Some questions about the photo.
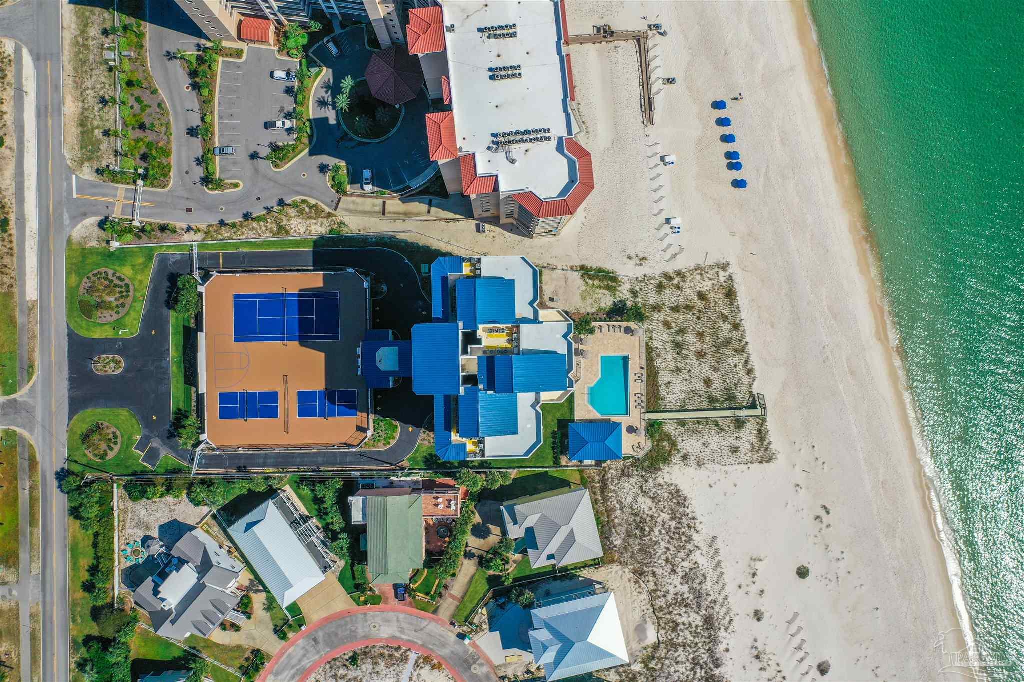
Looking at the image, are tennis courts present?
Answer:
Yes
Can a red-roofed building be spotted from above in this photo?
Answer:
Yes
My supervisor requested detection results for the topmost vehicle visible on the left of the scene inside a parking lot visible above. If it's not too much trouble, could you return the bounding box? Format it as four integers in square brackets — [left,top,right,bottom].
[324,35,341,58]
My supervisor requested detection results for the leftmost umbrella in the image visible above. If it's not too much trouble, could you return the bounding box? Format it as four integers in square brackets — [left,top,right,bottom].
[145,539,160,554]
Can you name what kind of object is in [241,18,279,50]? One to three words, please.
building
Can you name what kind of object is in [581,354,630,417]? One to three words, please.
swimming pool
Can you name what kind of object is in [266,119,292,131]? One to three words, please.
vehicle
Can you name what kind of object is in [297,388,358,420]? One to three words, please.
sports court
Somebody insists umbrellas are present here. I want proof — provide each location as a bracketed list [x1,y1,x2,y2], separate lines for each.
[721,117,730,127]
[737,179,746,189]
[582,348,593,359]
[633,427,644,438]
[581,335,592,346]
[730,151,740,160]
[732,161,742,170]
[632,326,643,337]
[145,539,160,554]
[725,134,735,143]
[716,101,726,110]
